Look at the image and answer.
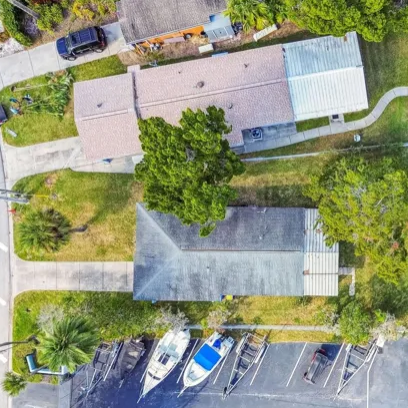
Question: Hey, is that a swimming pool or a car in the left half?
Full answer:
You can see a car in the left half.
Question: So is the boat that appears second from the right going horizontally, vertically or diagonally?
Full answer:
In this picture, the boat that appears second from the right is oriented diagonally.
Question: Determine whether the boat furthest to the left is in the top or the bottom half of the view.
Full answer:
The boat furthest to the left is in the bottom half of the image.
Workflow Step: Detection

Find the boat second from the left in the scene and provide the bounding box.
[139,326,194,404]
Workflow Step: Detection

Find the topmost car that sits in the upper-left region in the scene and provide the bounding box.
[57,24,110,59]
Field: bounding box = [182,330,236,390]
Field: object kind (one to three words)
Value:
boat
